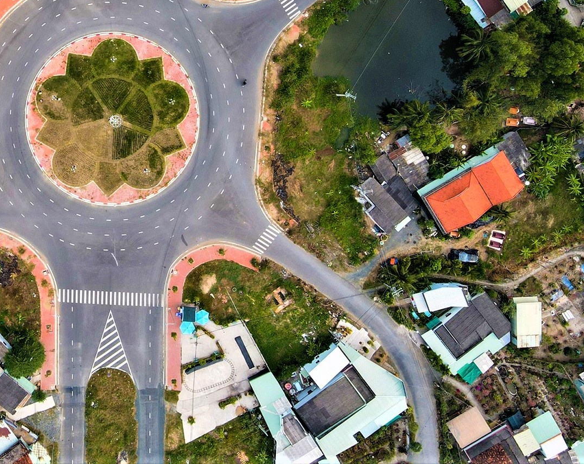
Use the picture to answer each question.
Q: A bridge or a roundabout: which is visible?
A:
roundabout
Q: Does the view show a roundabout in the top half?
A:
Yes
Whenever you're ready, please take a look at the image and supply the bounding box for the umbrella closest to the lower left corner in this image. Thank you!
[180,322,194,335]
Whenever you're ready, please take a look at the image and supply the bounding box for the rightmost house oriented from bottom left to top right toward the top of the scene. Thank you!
[413,132,531,233]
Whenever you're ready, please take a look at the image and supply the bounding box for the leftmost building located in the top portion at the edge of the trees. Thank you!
[357,134,430,234]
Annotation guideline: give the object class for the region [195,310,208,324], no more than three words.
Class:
umbrella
